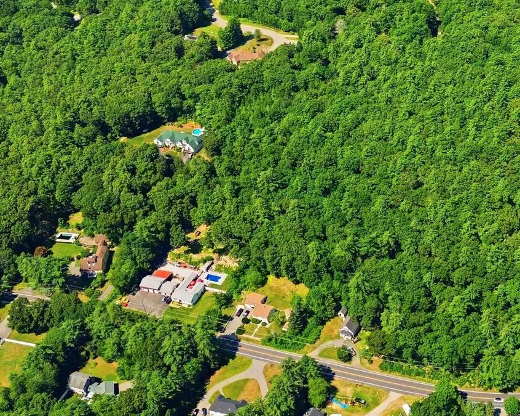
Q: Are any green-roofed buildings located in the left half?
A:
Yes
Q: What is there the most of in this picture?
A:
trees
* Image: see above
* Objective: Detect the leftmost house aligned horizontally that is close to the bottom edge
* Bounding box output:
[66,372,118,400]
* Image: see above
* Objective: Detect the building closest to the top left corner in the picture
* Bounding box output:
[155,132,202,154]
